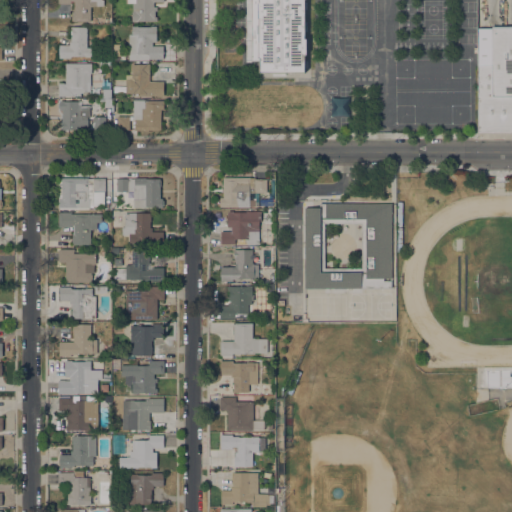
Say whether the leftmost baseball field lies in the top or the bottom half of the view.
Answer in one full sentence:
You can find the leftmost baseball field in the bottom half.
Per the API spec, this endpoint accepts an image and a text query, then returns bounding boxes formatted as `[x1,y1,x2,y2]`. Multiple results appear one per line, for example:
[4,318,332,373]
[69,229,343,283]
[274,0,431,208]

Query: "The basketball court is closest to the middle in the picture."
[306,289,394,320]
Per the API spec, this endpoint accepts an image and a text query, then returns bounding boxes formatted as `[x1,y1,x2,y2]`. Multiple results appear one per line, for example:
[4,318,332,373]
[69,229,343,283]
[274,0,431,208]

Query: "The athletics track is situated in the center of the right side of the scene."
[404,196,512,367]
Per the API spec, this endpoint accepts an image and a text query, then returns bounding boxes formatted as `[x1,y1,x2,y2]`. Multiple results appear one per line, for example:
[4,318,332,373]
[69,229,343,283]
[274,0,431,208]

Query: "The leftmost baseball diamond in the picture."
[311,434,398,512]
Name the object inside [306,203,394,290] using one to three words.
building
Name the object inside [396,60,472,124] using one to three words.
sports court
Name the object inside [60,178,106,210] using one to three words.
house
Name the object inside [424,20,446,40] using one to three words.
basketball court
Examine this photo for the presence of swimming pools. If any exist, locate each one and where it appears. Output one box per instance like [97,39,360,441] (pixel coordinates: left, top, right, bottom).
[98,222,110,233]
[112,434,126,455]
[100,482,110,506]
[100,438,110,458]
[100,409,109,429]
[100,296,110,314]
[264,250,272,266]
